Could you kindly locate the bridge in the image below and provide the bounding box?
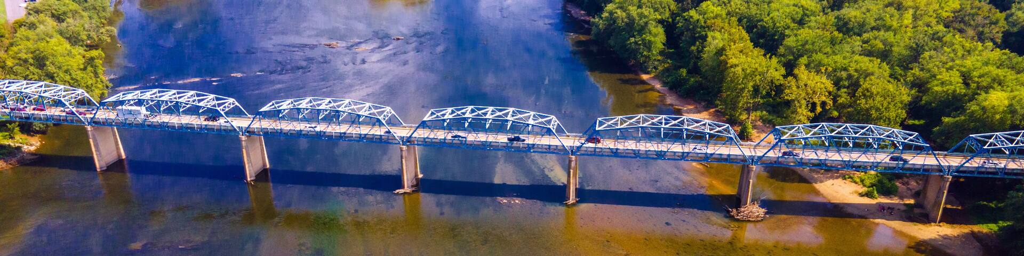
[0,81,1024,226]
